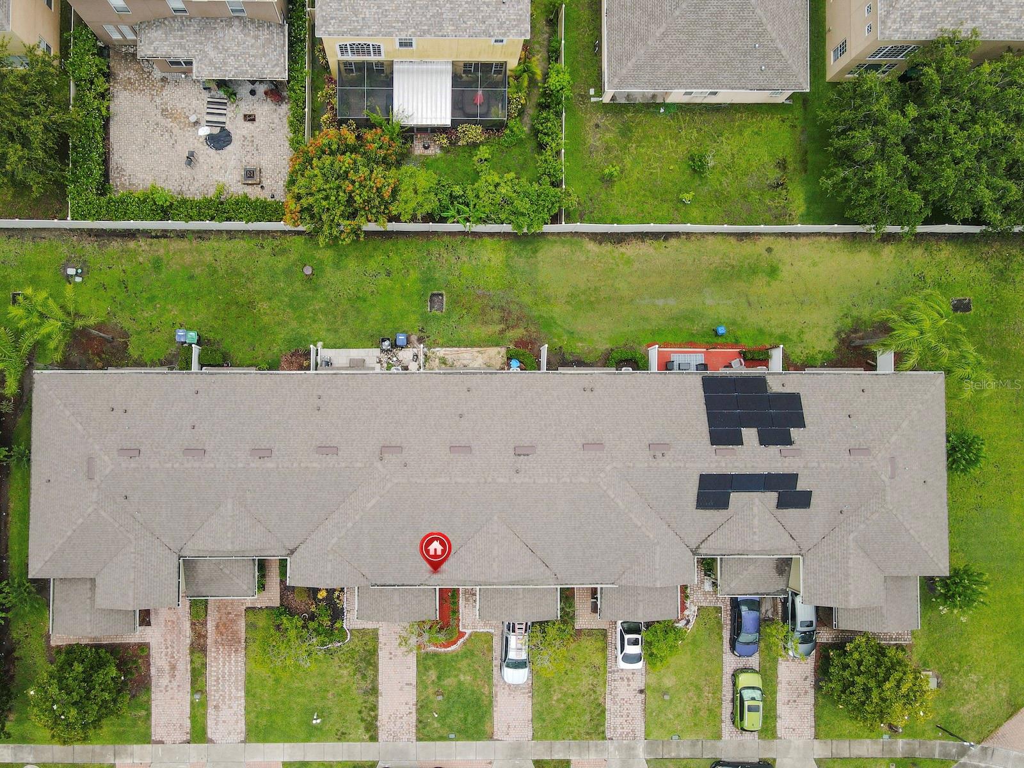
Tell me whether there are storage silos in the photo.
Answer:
No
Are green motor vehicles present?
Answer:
Yes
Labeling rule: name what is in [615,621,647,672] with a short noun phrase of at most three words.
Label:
car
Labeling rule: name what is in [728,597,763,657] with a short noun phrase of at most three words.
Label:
car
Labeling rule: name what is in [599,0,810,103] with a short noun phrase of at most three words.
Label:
house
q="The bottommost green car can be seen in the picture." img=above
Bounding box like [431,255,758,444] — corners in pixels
[730,667,766,731]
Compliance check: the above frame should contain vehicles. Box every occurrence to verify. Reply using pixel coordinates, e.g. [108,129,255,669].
[728,597,763,657]
[500,622,533,686]
[615,621,647,672]
[781,591,820,659]
[730,667,766,731]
